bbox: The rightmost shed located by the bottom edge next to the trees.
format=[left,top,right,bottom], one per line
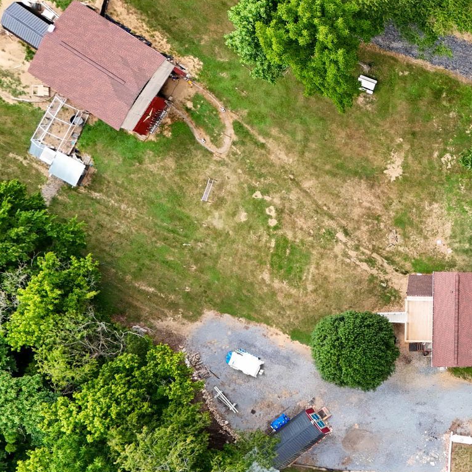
[268,405,333,470]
